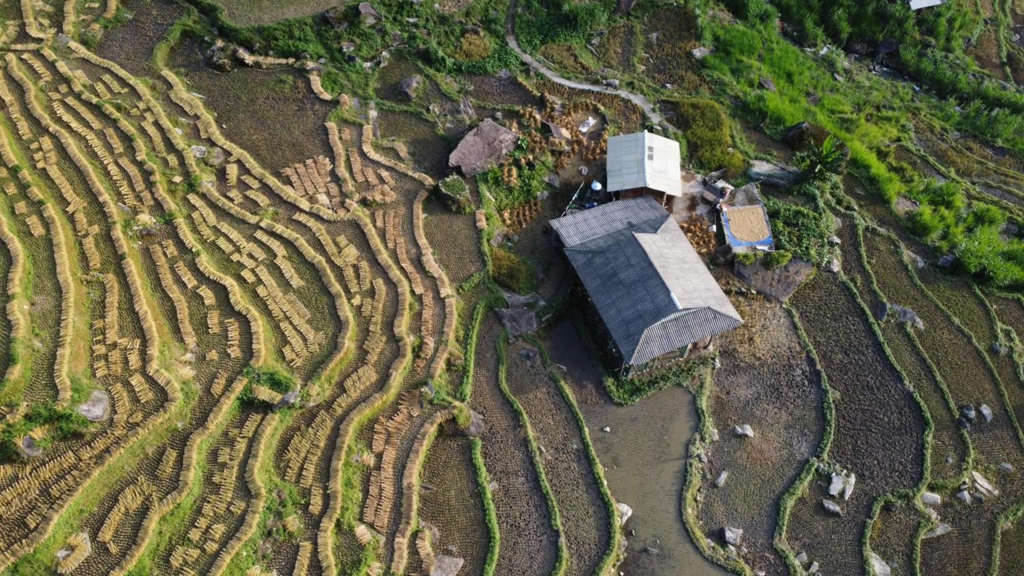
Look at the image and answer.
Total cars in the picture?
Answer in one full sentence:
No cars are visible.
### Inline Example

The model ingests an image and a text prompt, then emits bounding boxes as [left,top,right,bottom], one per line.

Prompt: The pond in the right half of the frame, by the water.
[548,322,734,576]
